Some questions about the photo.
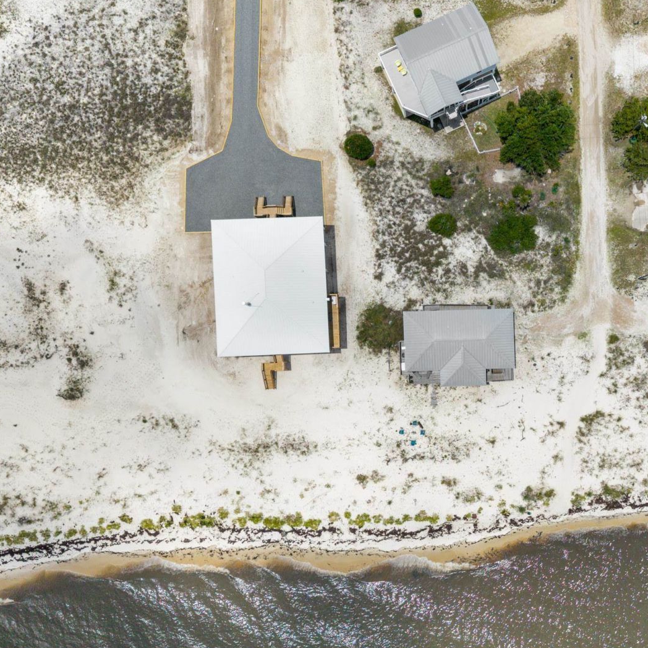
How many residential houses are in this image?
3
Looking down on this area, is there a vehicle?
No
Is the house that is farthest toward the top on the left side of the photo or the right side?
right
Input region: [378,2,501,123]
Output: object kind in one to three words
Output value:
house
